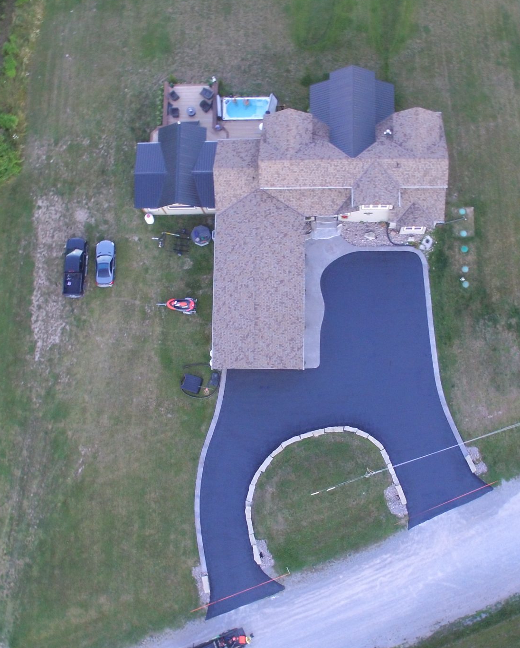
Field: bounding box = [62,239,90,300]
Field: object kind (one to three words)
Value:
truck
